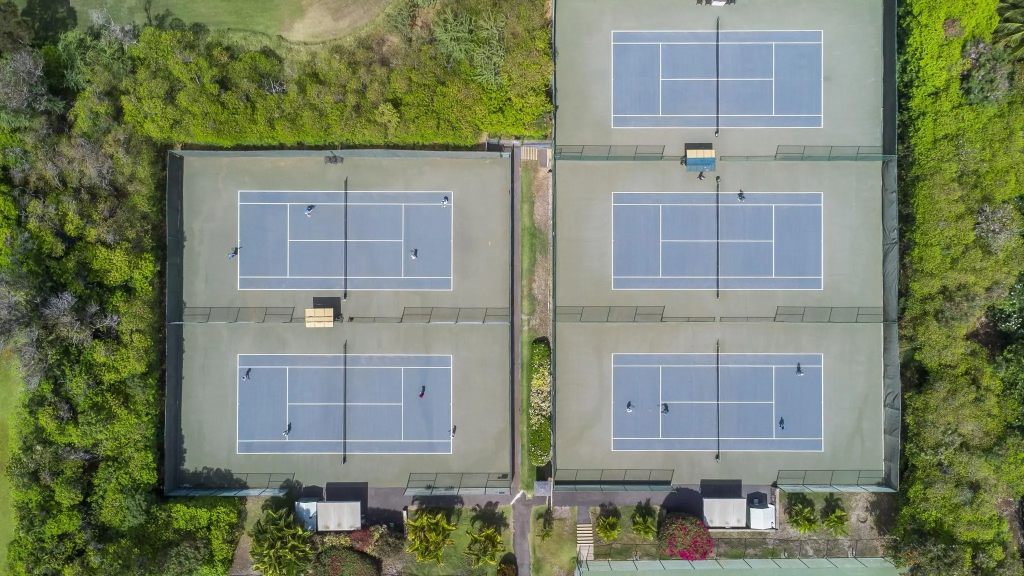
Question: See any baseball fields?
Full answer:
No, I find no baseball field anywhere in the image.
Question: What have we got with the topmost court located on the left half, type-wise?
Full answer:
It looks like the topmost court located on the left half is a tennis court.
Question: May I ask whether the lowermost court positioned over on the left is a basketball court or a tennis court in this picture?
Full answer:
The lowermost court positioned over on the left can be classified as a tennis court.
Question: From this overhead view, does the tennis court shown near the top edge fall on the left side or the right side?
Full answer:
The tennis court shown near the top edge is on the right side of the image.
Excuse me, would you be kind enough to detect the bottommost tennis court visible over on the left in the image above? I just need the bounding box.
[180,322,511,487]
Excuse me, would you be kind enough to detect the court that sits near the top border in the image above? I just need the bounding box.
[555,0,883,160]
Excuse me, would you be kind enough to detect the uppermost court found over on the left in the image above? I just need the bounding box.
[180,156,511,322]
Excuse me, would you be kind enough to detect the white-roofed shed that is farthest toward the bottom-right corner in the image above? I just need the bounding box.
[746,500,774,530]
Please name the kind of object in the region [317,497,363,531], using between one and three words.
shed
